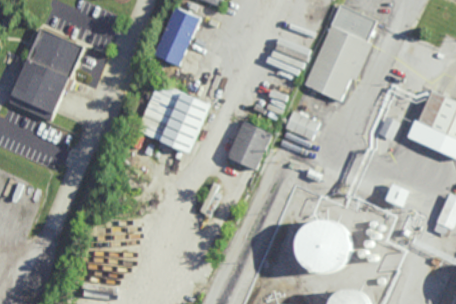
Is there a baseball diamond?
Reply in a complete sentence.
No, the photo shows no baseball diamond.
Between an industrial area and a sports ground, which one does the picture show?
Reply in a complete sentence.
This looks like an industrial area.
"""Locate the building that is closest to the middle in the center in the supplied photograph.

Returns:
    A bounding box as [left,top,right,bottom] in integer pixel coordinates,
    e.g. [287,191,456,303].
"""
[228,121,274,170]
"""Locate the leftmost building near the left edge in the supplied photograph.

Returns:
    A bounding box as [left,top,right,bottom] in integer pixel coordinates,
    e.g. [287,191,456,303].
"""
[9,30,84,121]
